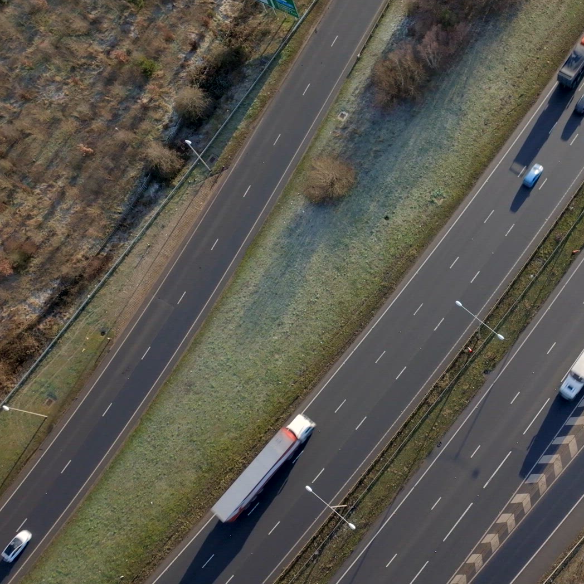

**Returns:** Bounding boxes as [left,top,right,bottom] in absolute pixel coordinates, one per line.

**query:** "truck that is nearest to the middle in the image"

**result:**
[213,410,317,520]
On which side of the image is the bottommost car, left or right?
left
